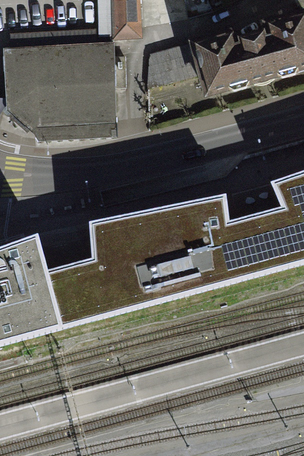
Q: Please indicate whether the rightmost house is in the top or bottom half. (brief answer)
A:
top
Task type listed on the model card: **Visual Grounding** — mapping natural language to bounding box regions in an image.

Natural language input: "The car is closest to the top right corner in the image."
[240,21,260,34]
